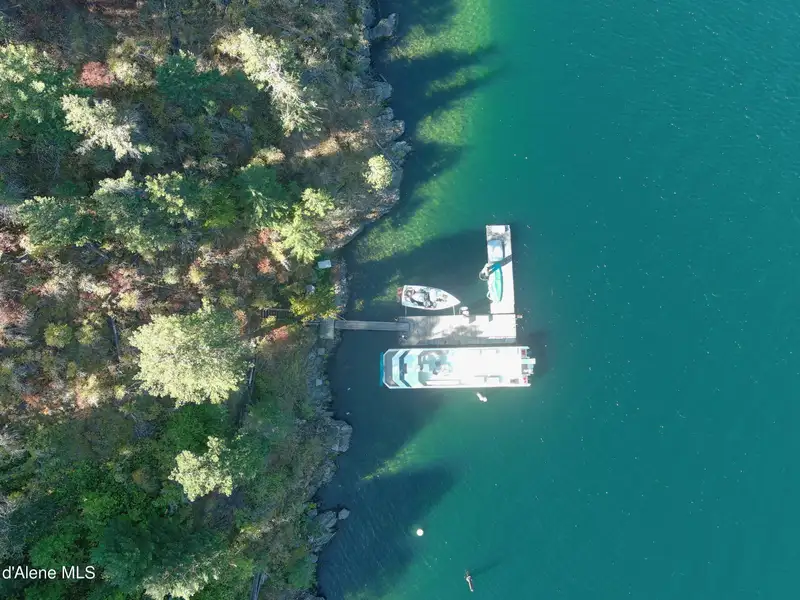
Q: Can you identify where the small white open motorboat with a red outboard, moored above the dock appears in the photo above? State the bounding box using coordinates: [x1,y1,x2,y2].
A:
[395,286,460,310]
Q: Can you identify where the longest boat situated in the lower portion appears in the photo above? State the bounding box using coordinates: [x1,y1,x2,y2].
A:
[380,348,535,389]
